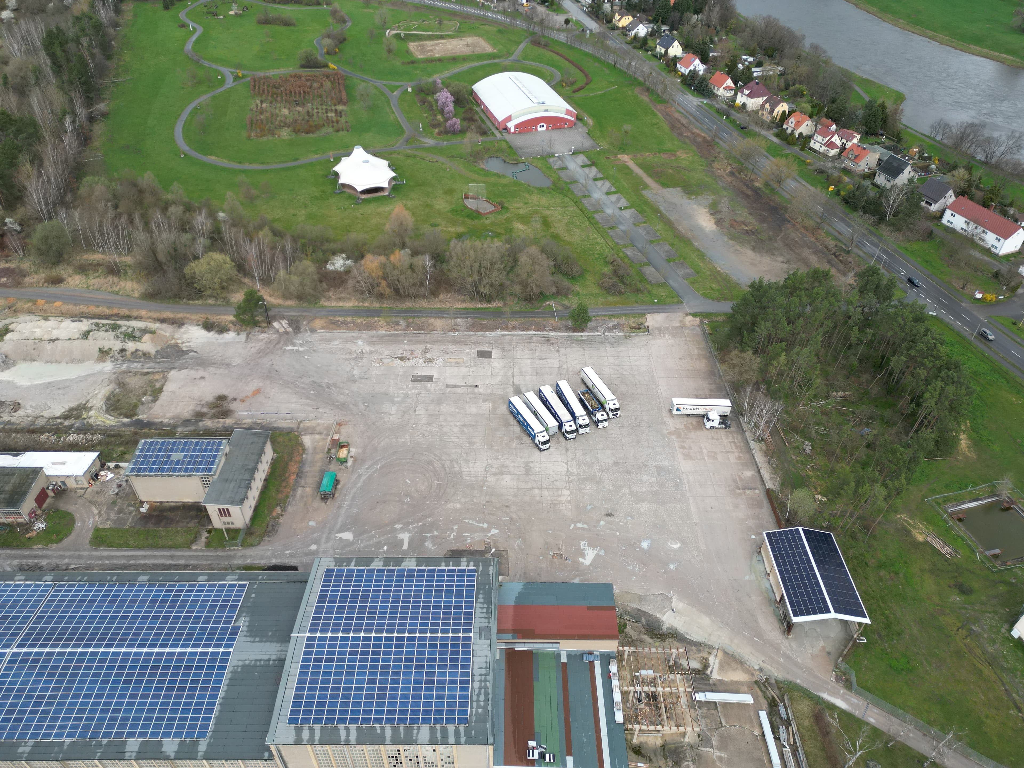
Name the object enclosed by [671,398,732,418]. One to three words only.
trailer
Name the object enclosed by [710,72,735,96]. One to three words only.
house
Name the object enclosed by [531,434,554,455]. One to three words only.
truck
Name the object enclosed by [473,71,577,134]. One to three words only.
building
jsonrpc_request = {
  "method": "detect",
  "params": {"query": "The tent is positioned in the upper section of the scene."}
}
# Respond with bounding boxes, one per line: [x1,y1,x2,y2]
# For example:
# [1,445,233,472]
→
[328,146,403,203]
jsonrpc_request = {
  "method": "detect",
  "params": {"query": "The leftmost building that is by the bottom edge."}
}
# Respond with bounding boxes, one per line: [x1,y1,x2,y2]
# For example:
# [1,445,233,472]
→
[0,573,313,768]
